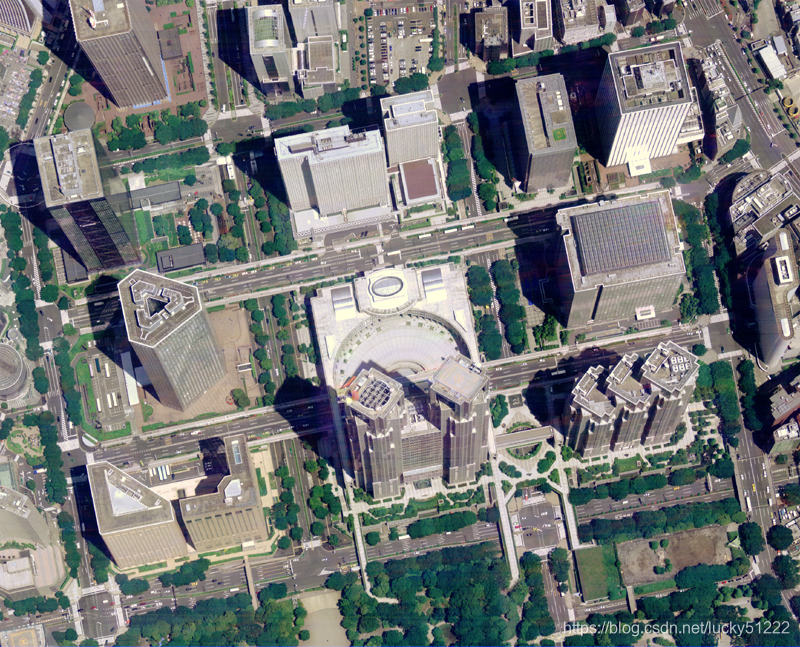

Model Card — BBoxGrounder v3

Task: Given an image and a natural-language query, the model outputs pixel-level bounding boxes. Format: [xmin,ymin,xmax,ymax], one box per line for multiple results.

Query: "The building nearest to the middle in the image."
[310,264,479,391]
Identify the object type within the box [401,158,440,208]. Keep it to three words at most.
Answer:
building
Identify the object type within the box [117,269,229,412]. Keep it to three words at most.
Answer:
building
